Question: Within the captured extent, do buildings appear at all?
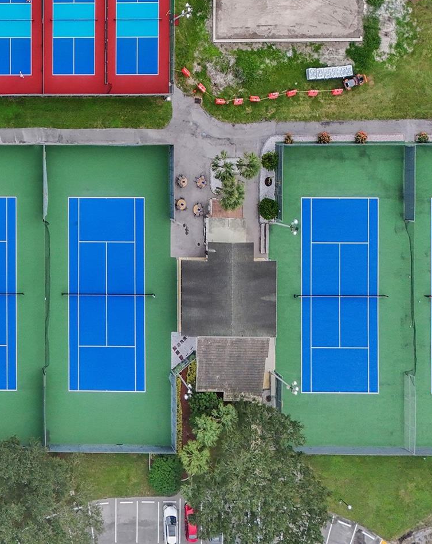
Yes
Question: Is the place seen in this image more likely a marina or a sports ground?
sports ground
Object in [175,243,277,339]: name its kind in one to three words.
building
